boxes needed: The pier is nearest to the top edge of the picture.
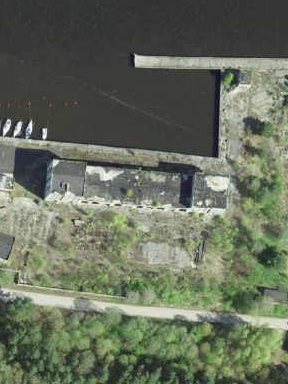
[133,53,288,71]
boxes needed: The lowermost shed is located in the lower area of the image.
[262,289,287,304]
